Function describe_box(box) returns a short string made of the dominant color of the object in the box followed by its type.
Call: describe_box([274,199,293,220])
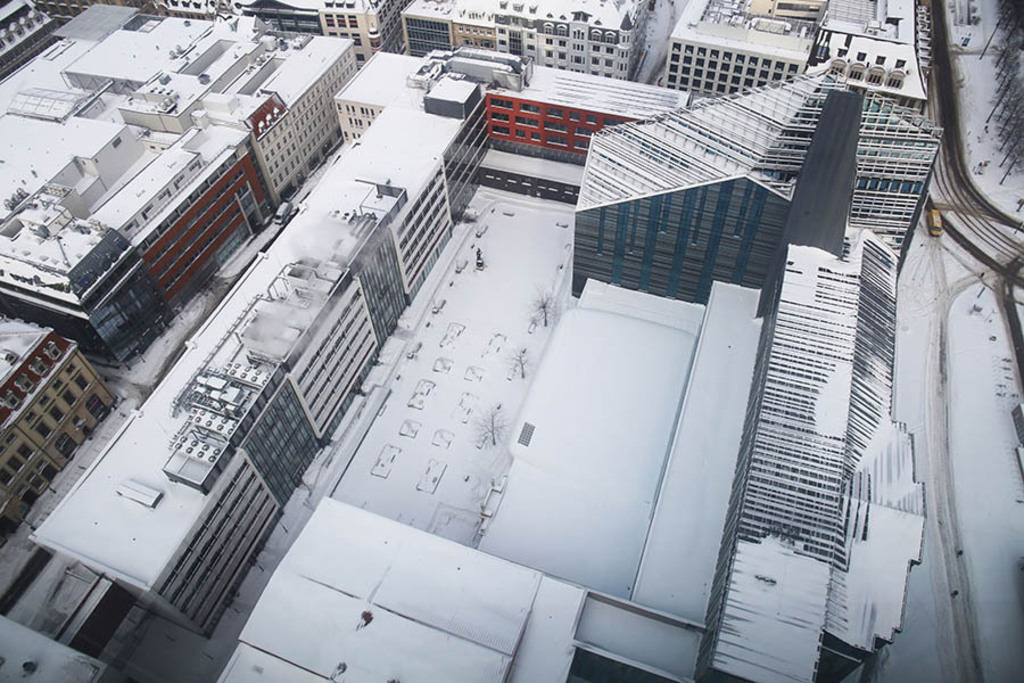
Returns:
gray vehicle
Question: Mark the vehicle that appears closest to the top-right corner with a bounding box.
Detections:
[931,205,947,232]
